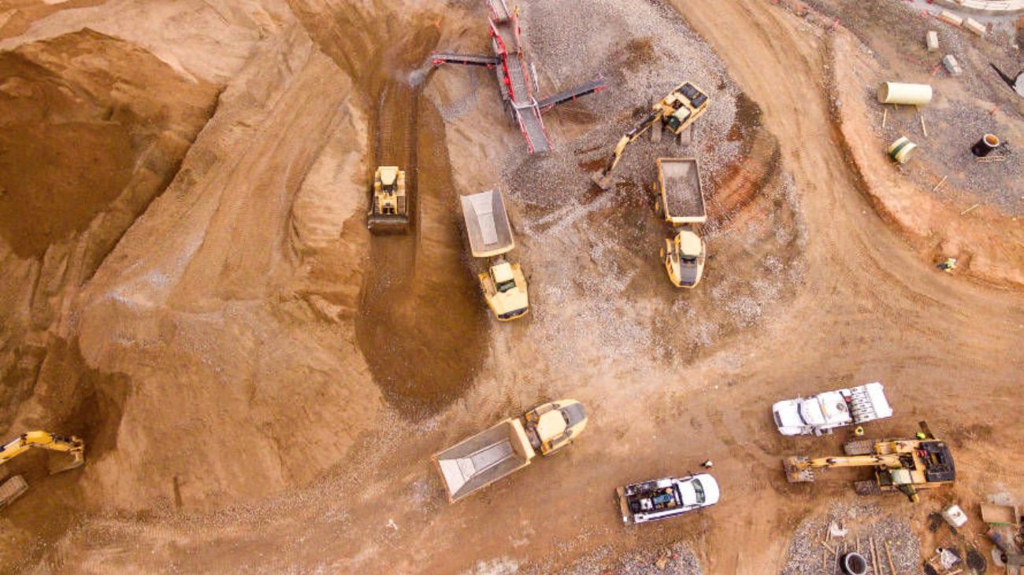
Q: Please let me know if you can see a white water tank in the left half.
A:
No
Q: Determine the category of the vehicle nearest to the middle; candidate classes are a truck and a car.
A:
truck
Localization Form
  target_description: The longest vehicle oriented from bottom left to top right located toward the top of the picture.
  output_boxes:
[592,80,717,192]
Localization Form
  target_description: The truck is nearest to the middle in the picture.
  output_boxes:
[459,188,534,327]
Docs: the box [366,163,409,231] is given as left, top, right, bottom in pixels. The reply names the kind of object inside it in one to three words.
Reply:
work vehicle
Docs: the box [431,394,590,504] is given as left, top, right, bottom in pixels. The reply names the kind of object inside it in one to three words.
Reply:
truck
